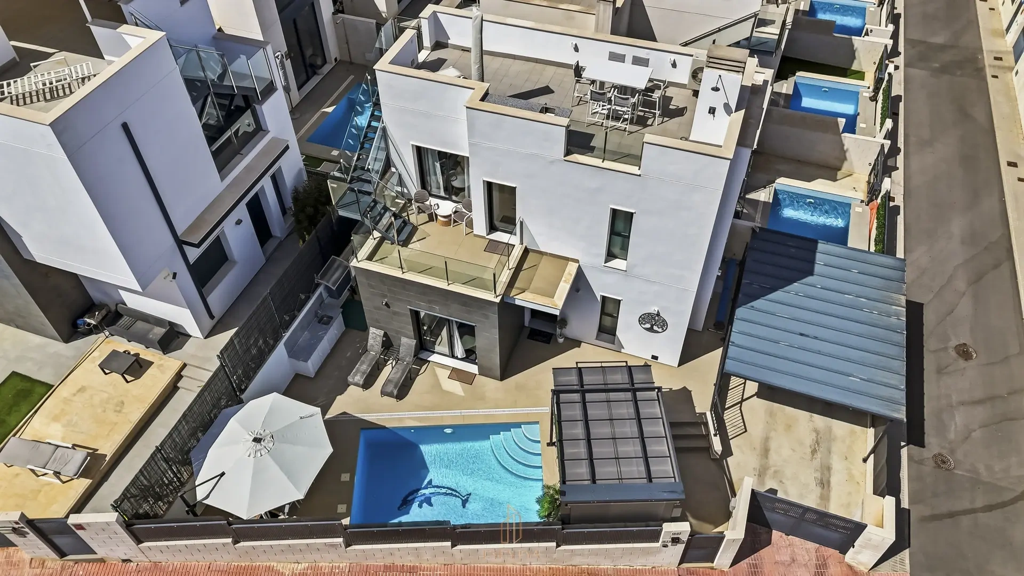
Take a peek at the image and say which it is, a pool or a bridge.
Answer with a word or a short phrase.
pool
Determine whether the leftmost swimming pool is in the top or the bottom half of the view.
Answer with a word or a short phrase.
top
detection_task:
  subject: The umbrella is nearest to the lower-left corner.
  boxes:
[182,392,335,519]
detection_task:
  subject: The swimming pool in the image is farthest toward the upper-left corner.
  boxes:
[297,77,386,150]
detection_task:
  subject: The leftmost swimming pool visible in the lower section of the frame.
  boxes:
[350,423,545,536]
